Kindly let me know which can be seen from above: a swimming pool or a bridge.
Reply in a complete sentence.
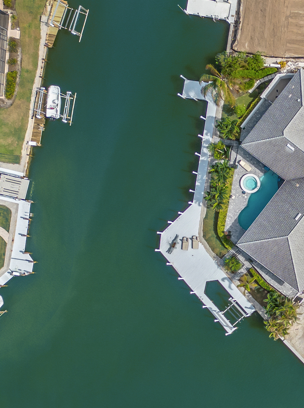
Visible in the photo is a swimming pool.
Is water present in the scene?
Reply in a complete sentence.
Yes, some water is visible.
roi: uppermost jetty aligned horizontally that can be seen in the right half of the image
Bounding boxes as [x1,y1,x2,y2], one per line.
[178,0,234,24]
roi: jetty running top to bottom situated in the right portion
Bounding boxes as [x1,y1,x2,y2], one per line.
[154,75,256,336]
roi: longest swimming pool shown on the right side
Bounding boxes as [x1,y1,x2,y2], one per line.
[238,171,284,229]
